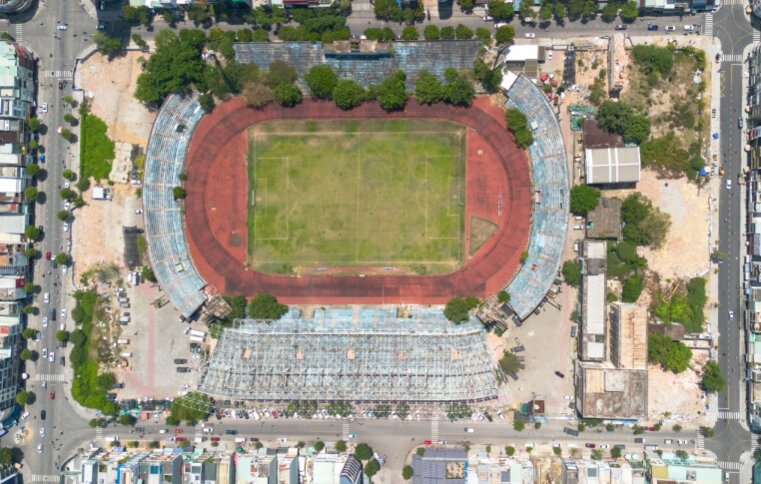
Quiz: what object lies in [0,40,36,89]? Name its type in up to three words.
house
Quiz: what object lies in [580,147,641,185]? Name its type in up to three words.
building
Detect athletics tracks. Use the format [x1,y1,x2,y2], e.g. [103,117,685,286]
[185,95,530,304]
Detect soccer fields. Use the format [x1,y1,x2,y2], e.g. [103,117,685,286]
[248,119,467,275]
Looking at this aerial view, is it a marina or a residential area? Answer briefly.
residential area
